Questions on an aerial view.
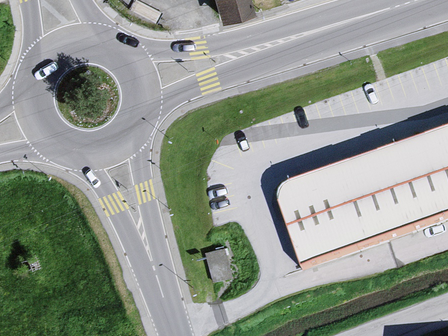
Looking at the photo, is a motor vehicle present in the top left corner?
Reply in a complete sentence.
Yes, a motor vehicle appears in the top left corner.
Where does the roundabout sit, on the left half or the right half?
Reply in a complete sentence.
The roundabout sits on the left side.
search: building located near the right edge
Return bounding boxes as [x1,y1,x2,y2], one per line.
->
[276,119,448,274]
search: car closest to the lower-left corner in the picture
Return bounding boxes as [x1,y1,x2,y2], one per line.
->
[84,166,101,188]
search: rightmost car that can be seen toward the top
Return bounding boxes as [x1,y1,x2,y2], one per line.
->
[365,83,379,105]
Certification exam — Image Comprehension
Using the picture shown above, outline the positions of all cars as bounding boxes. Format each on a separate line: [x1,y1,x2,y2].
[208,186,230,199]
[35,60,58,78]
[237,130,250,152]
[172,42,197,52]
[84,166,101,188]
[424,224,448,236]
[210,197,232,210]
[117,32,140,47]
[296,106,310,130]
[365,83,379,105]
